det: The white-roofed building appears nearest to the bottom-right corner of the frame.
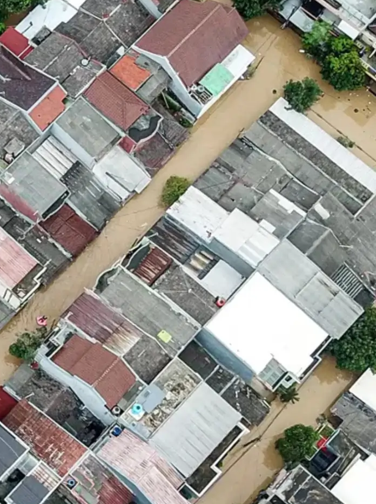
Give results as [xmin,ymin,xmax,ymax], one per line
[324,449,376,504]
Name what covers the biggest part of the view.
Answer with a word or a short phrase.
buildings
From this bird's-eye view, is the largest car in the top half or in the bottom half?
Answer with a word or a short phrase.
bottom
